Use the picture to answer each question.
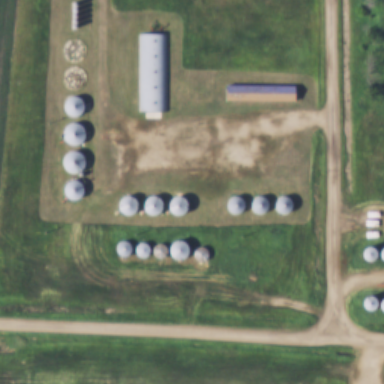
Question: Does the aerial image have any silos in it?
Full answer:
Yes, I can see a silo in this picture.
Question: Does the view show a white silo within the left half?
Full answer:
Yes, looking within the left half, one can make out a white silo.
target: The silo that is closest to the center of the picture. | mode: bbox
[170,192,190,217]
